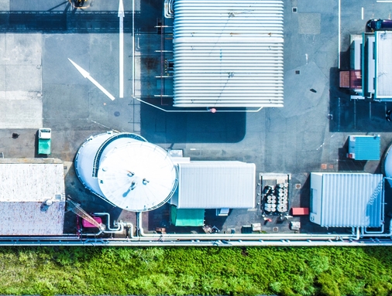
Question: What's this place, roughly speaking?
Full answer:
It's an industrial area.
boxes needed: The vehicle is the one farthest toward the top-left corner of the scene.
[35,128,50,155]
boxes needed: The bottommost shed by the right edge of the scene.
[307,171,383,227]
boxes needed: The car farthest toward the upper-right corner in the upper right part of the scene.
[364,17,392,31]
